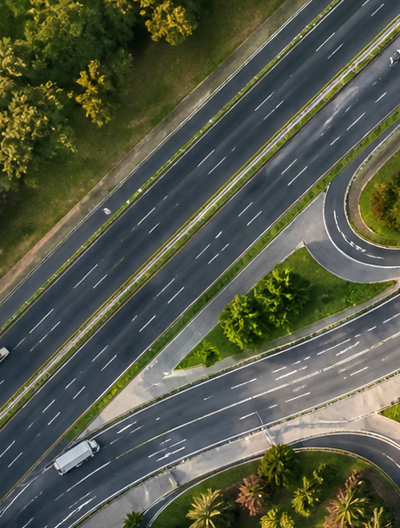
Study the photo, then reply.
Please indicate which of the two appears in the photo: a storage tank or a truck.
truck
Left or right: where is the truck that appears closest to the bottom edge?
left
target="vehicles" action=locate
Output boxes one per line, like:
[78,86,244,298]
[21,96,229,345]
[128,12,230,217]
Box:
[389,46,400,64]
[0,346,9,363]
[51,439,101,475]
